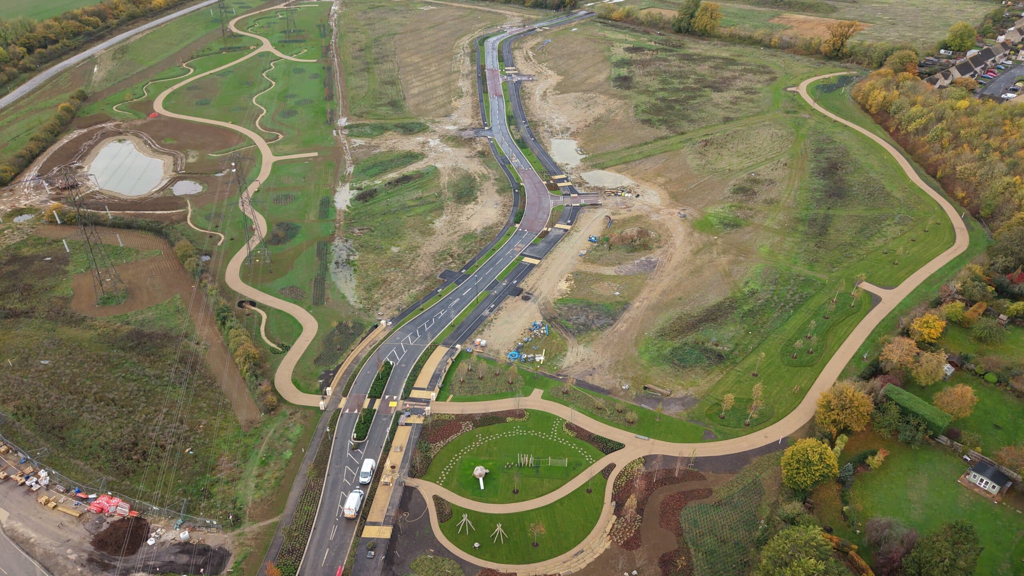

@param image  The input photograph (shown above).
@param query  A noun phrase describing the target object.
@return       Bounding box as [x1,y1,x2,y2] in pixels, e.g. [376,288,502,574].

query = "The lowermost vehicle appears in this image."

[348,487,370,516]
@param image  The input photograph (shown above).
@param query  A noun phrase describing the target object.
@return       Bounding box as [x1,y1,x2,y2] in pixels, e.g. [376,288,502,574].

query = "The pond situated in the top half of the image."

[89,140,164,196]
